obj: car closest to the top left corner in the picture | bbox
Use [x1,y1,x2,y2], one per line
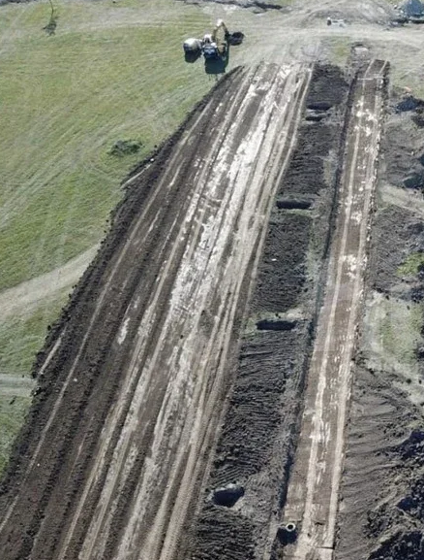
[180,36,207,51]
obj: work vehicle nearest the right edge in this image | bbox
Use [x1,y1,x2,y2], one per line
[199,13,238,57]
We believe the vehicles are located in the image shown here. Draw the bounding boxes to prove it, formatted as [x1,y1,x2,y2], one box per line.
[199,13,238,57]
[180,36,207,51]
